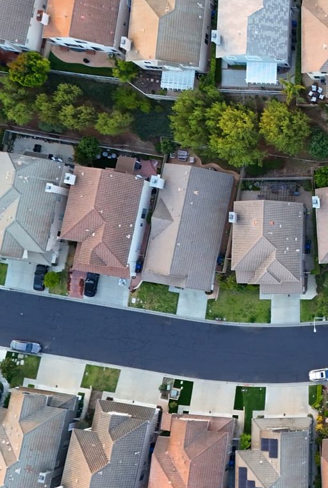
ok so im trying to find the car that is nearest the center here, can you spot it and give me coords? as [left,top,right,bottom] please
[85,280,99,297]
